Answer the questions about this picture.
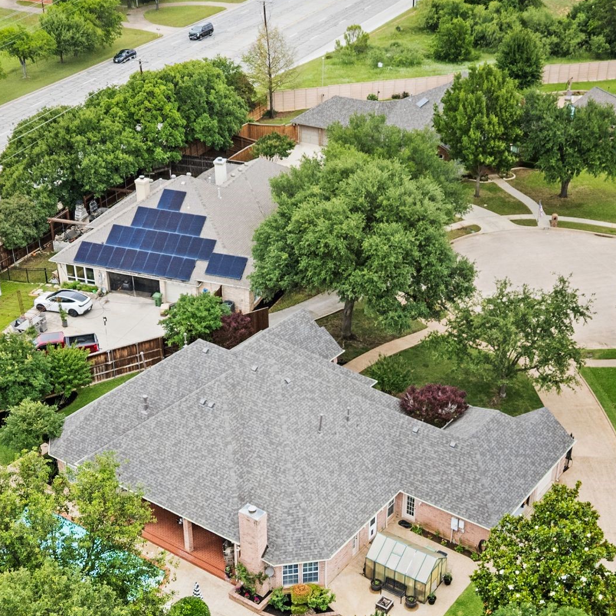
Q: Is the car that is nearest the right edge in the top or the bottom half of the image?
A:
top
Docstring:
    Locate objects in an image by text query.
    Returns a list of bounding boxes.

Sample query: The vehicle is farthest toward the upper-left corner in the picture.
[109,47,137,63]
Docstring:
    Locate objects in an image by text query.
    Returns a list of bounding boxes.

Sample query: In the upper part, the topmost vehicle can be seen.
[186,19,215,39]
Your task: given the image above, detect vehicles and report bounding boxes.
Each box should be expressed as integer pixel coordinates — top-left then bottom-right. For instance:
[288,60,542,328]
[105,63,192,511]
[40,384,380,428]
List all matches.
[109,47,137,63]
[186,19,215,39]
[33,287,93,316]
[35,330,106,363]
